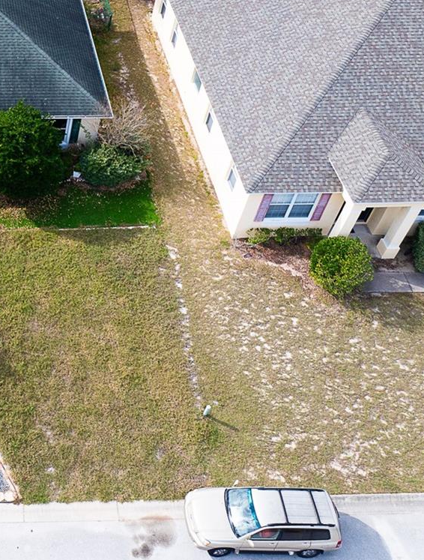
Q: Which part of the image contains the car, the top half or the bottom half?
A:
bottom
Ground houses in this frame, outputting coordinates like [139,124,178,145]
[157,0,424,258]
[0,0,115,153]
